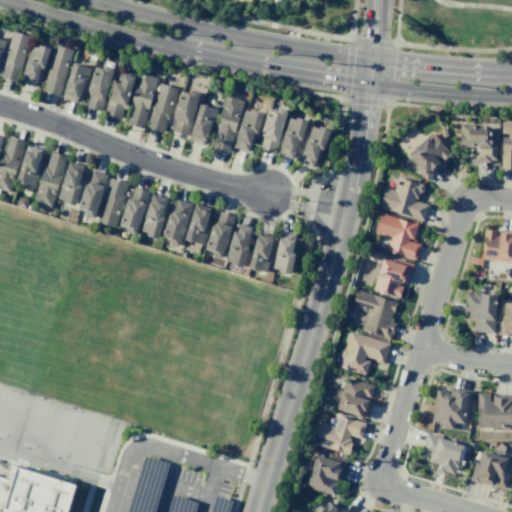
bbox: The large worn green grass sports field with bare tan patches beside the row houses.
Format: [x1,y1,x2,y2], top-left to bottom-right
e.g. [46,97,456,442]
[0,203,296,461]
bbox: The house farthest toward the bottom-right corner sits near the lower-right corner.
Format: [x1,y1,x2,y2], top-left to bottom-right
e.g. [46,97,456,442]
[468,450,512,493]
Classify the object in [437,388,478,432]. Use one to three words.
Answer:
house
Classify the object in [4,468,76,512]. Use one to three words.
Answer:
building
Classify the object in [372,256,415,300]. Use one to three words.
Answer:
house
